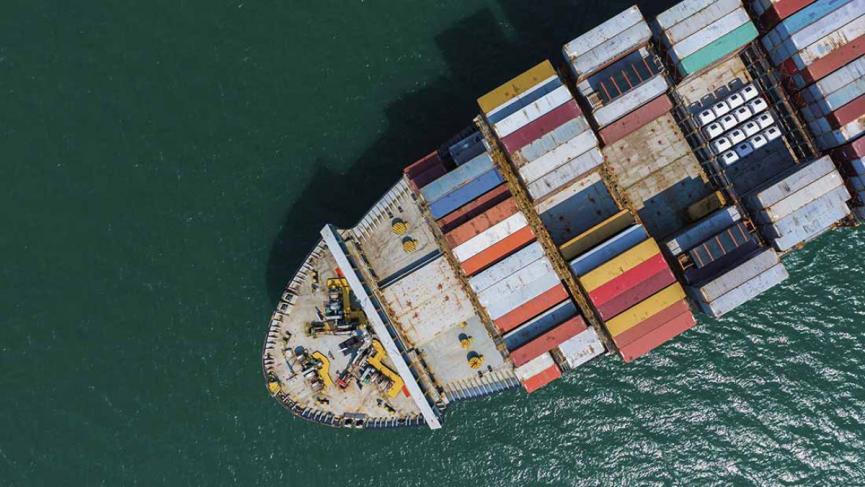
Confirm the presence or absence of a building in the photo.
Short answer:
No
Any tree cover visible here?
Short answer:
No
